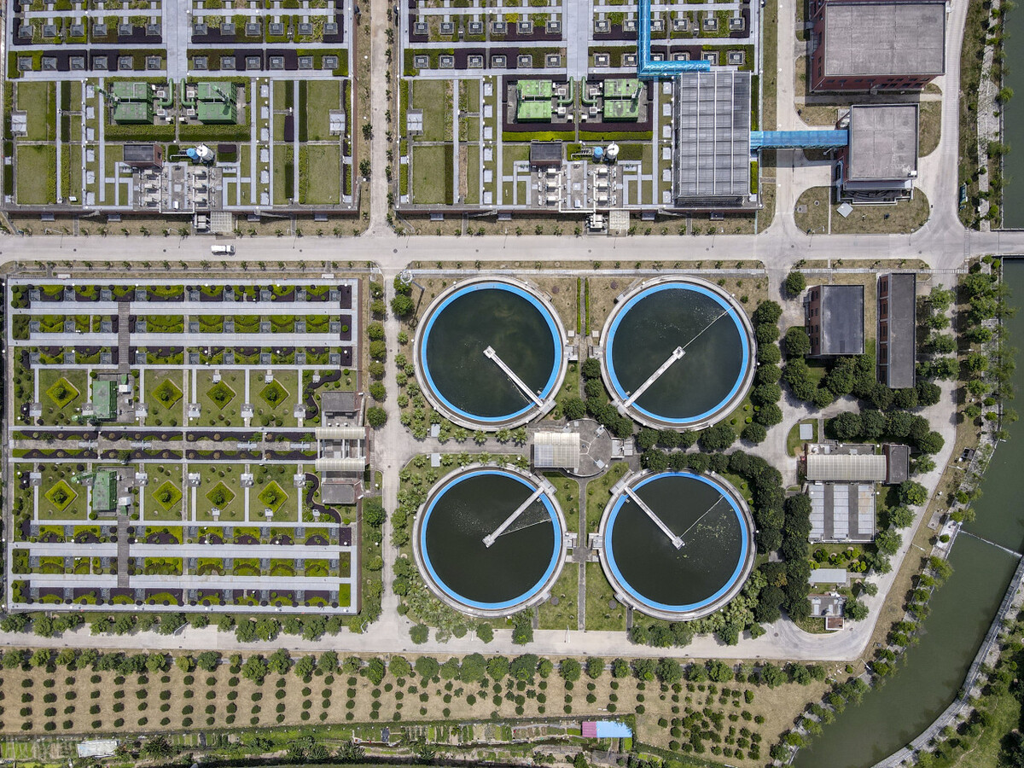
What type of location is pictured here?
industrial area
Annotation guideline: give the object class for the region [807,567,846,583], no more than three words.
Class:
shed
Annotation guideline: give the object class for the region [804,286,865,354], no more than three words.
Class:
building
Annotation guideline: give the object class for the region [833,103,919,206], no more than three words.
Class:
building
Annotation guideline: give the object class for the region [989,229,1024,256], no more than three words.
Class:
bridge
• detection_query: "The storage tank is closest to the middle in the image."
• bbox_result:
[414,275,569,430]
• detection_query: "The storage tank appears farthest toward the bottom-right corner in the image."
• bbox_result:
[599,464,755,620]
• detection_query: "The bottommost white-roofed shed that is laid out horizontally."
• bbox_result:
[77,736,121,756]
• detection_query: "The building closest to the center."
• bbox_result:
[531,417,633,479]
